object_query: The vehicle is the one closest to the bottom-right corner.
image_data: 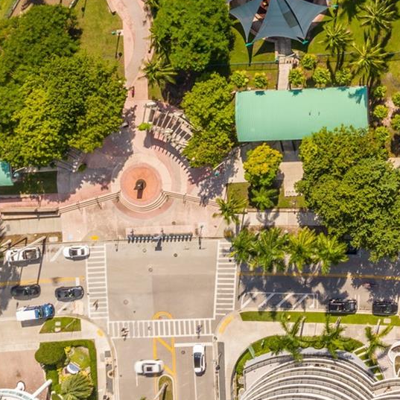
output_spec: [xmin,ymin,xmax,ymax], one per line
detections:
[371,302,399,317]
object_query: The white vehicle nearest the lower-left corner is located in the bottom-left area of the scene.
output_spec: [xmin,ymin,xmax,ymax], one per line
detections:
[10,306,52,327]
